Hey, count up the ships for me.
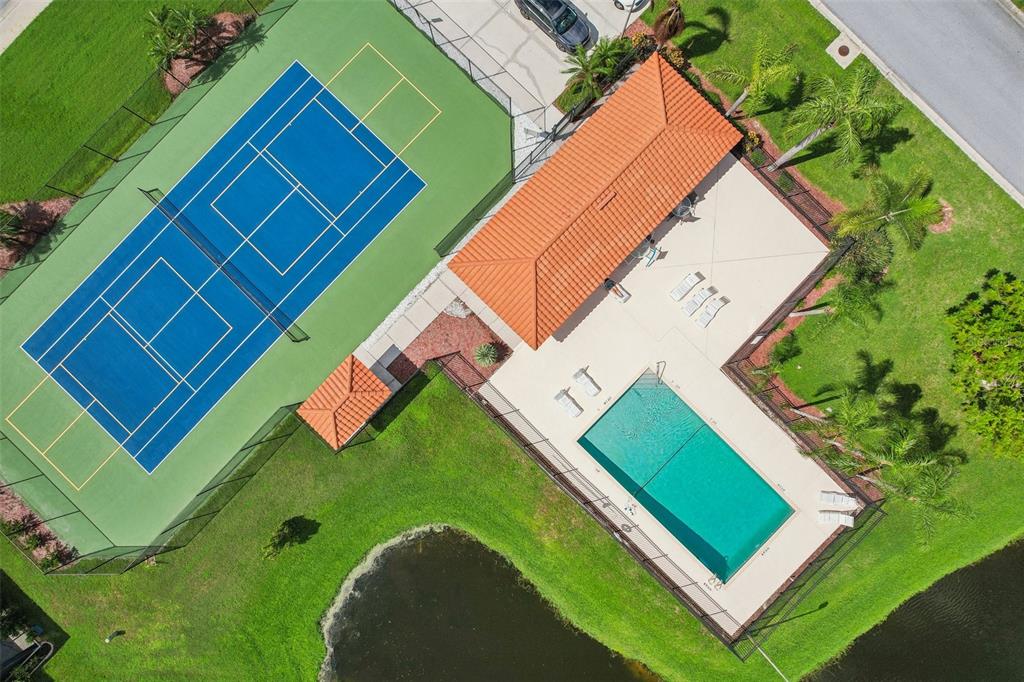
zero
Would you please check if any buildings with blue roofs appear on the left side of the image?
No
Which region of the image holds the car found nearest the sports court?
top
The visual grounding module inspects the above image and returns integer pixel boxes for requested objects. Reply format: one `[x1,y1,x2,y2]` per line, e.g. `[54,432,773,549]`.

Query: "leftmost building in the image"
[295,353,392,451]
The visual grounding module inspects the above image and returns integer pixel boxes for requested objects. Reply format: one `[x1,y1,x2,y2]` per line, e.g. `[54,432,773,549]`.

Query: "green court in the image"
[0,0,511,557]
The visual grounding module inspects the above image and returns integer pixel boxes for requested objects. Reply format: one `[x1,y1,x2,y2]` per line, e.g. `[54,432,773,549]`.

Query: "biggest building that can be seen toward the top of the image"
[447,50,745,349]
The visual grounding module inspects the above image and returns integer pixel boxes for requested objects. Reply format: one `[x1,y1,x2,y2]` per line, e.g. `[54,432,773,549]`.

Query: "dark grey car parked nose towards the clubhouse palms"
[516,0,589,55]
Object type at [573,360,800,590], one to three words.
swimming pool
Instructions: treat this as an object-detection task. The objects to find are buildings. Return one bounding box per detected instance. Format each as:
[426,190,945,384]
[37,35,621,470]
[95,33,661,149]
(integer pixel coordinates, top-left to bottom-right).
[447,50,745,349]
[295,353,392,451]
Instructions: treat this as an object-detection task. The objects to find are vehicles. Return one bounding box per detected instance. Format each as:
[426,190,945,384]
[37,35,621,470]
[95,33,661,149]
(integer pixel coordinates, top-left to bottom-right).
[516,0,589,55]
[615,0,643,11]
